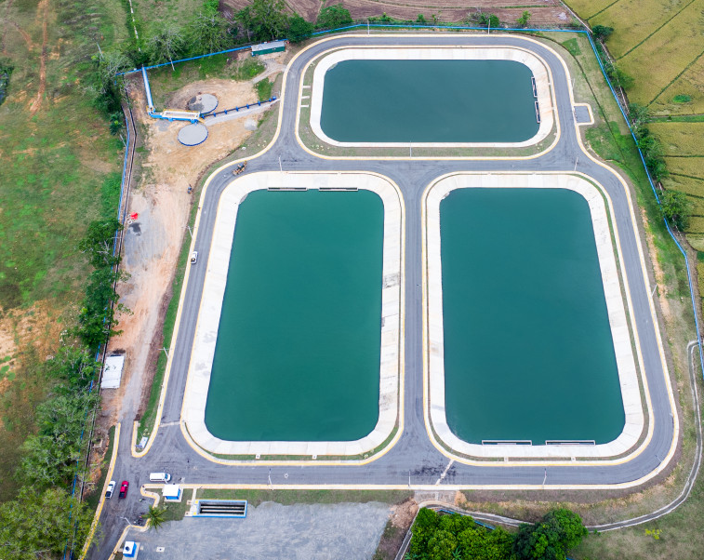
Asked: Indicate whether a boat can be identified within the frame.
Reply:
No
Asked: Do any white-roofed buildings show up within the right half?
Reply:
No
